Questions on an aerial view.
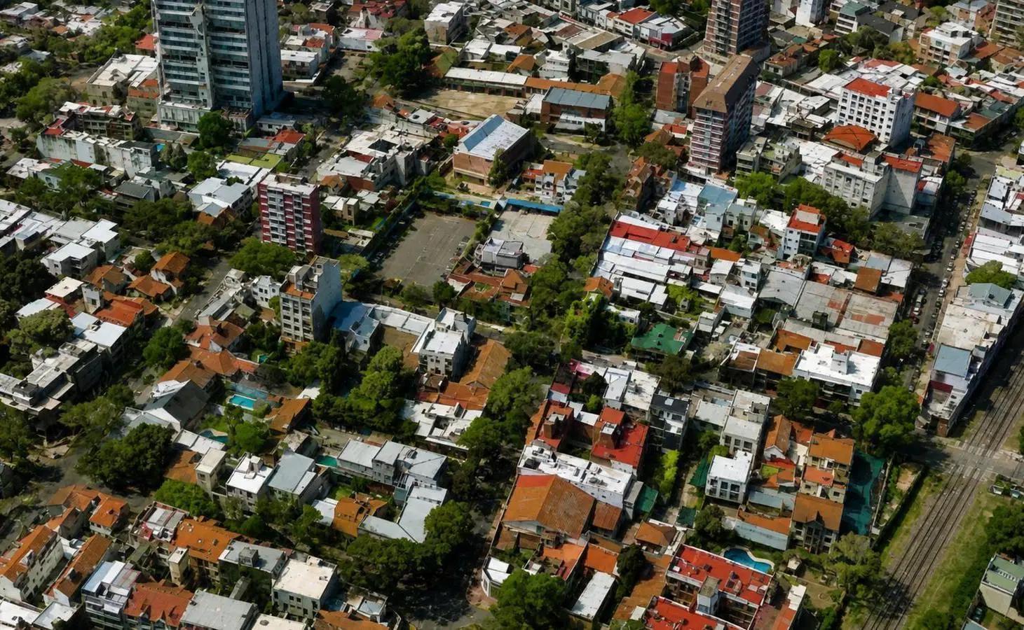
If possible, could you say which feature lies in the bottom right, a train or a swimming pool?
swimming pool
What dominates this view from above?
buildings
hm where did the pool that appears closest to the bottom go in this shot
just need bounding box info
[722,546,775,575]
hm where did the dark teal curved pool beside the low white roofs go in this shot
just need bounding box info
[199,429,225,446]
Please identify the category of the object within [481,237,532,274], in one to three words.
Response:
building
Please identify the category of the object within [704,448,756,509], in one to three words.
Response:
house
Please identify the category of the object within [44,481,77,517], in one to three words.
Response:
house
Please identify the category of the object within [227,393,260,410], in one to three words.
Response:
swimming pool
